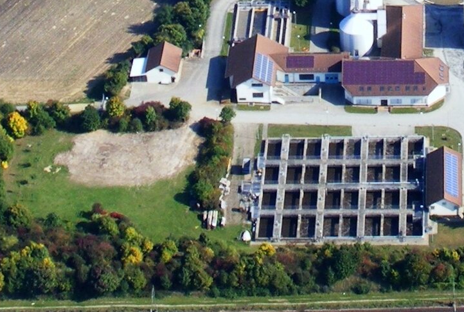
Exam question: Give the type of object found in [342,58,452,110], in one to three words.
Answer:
building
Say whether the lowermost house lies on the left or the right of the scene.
right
